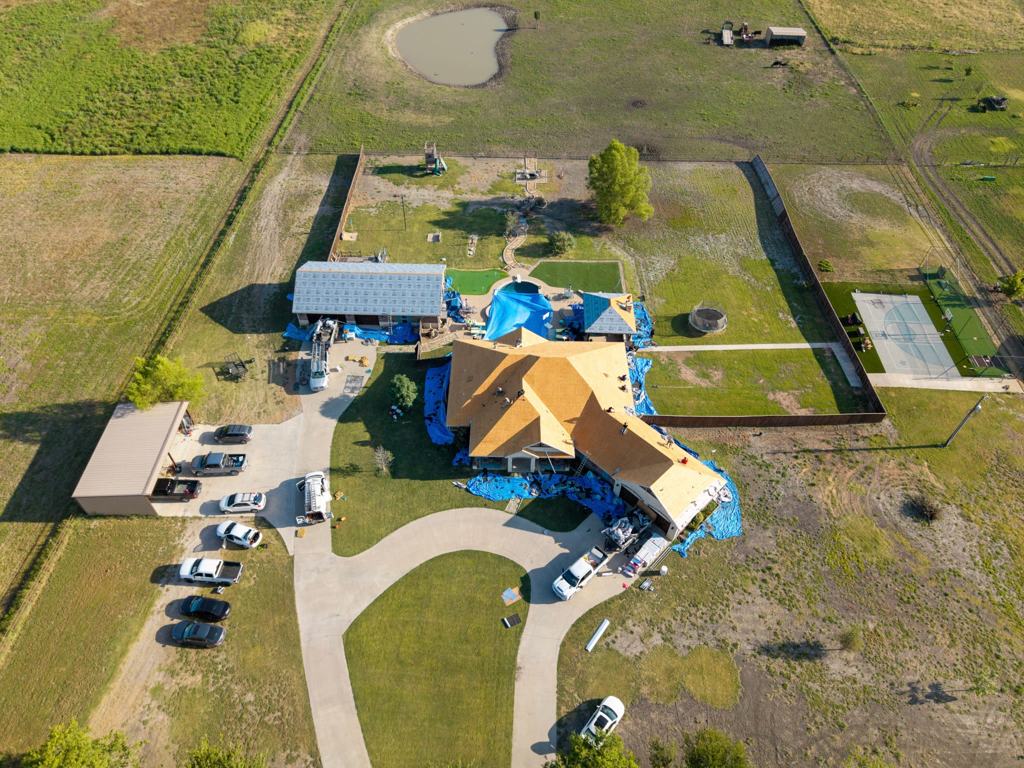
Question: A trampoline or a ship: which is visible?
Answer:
trampoline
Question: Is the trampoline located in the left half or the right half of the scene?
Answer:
right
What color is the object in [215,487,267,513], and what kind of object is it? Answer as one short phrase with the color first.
white car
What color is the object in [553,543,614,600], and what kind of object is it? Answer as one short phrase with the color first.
white truck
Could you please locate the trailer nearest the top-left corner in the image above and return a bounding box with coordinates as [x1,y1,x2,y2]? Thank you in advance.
[208,346,251,384]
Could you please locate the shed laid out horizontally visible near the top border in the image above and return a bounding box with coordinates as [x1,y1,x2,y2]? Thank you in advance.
[764,27,809,46]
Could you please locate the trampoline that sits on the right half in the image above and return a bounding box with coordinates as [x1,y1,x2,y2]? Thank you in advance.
[690,298,730,338]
